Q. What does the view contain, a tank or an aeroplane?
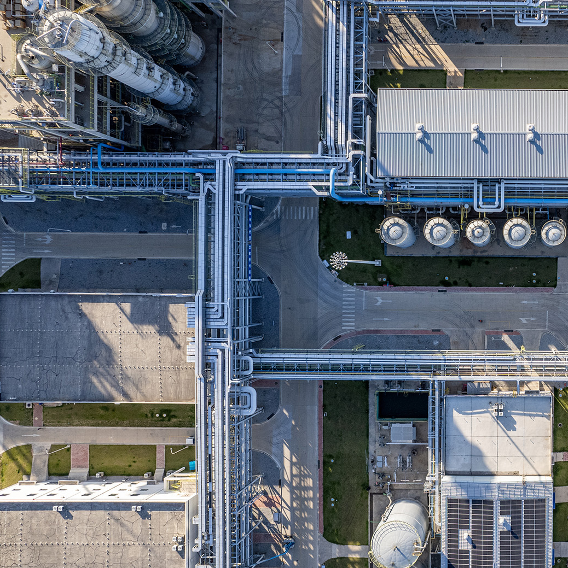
tank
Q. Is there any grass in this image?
Yes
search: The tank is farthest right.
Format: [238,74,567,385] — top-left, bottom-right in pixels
[539,216,568,247]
